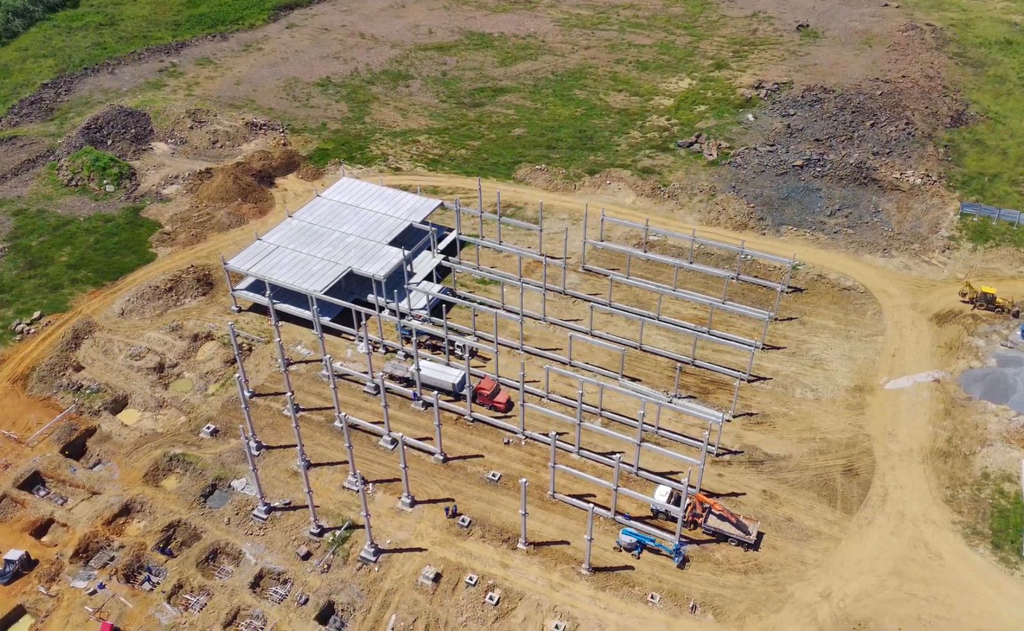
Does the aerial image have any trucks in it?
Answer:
Yes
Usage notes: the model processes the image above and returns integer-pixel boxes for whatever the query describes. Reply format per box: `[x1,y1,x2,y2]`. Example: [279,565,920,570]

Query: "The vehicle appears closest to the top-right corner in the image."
[959,281,1024,319]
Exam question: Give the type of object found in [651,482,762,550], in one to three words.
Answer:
truck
